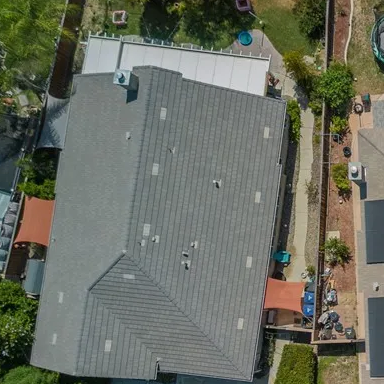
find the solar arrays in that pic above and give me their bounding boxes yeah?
[364,199,384,263]
[367,298,384,377]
